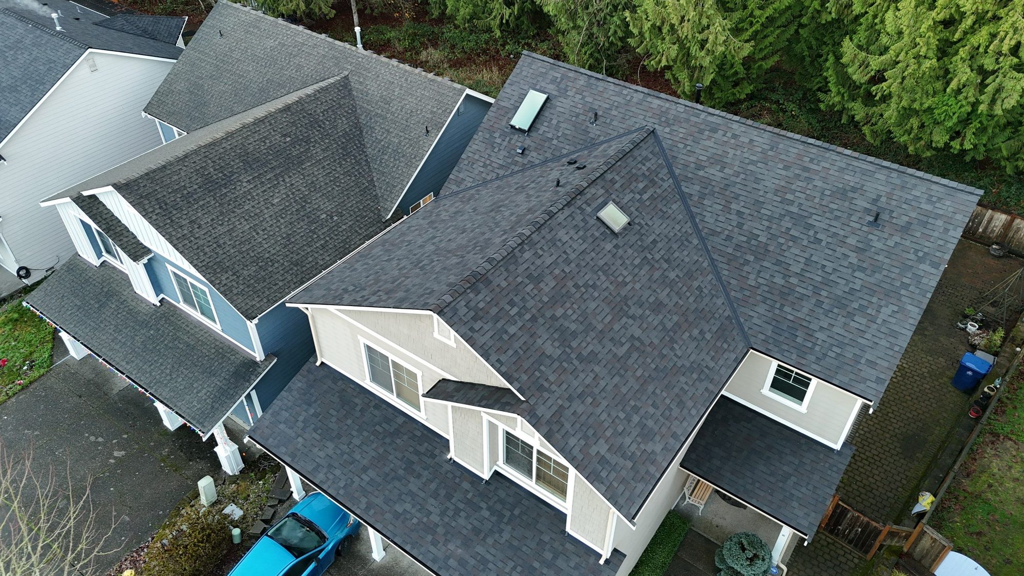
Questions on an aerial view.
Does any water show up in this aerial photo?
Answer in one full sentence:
No, the picture contains no water.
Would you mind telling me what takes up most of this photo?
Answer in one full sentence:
The scene is dominated by buildings.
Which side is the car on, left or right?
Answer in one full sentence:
The car appears in the left half of the scene.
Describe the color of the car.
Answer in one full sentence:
In this view, the car is blue.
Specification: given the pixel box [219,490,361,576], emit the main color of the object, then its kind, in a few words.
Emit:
blue car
